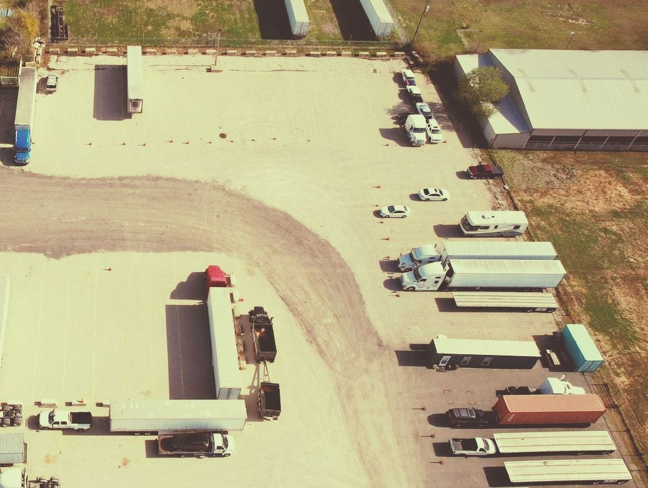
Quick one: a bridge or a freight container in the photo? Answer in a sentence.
Of the two, only a freight container appears.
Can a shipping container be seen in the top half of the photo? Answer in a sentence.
No, no shipping container can be made out in the top half of the photo.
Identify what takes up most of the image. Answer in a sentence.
What you mostly see from above here is paved ground.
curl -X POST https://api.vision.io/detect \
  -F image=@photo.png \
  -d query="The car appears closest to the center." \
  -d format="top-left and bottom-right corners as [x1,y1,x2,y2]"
[377,205,411,220]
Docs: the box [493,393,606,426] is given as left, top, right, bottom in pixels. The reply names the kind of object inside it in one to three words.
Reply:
shipping container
